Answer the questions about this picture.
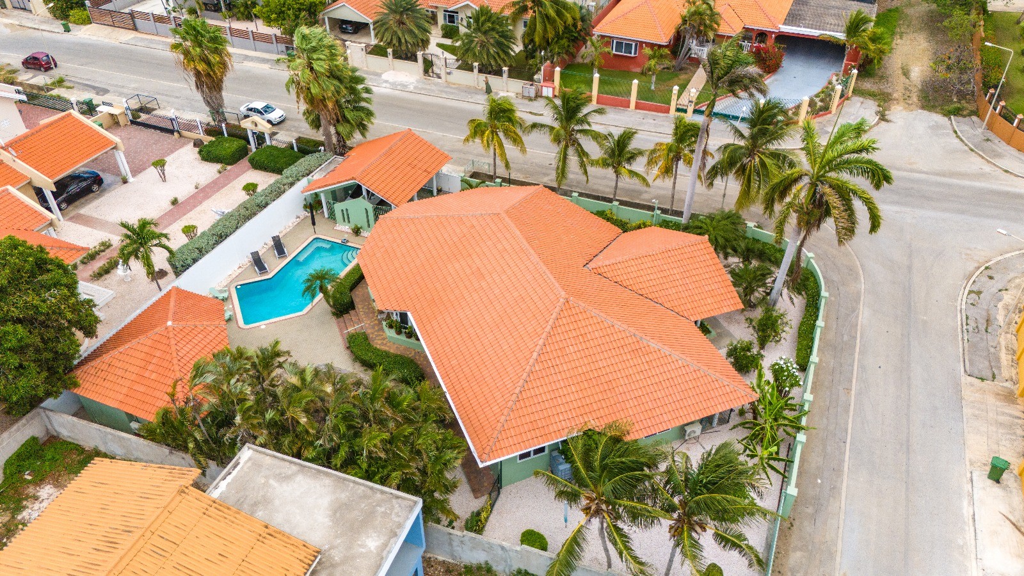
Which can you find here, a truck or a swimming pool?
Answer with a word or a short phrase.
swimming pool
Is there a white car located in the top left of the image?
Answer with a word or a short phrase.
Yes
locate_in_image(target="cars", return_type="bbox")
[335,18,371,37]
[236,101,287,125]
[18,50,55,71]
[32,172,101,211]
